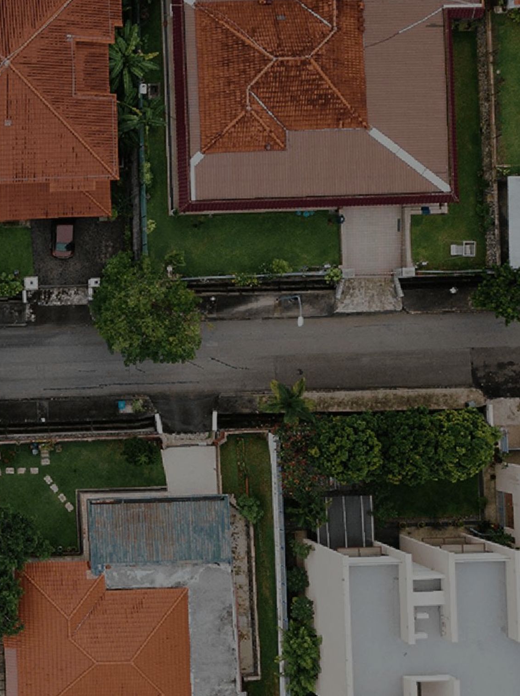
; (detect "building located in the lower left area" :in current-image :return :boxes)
[3,491,234,696]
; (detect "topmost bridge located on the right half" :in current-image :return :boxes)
[335,277,402,313]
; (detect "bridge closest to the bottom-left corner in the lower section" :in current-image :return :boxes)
[162,433,213,447]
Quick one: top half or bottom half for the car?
top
